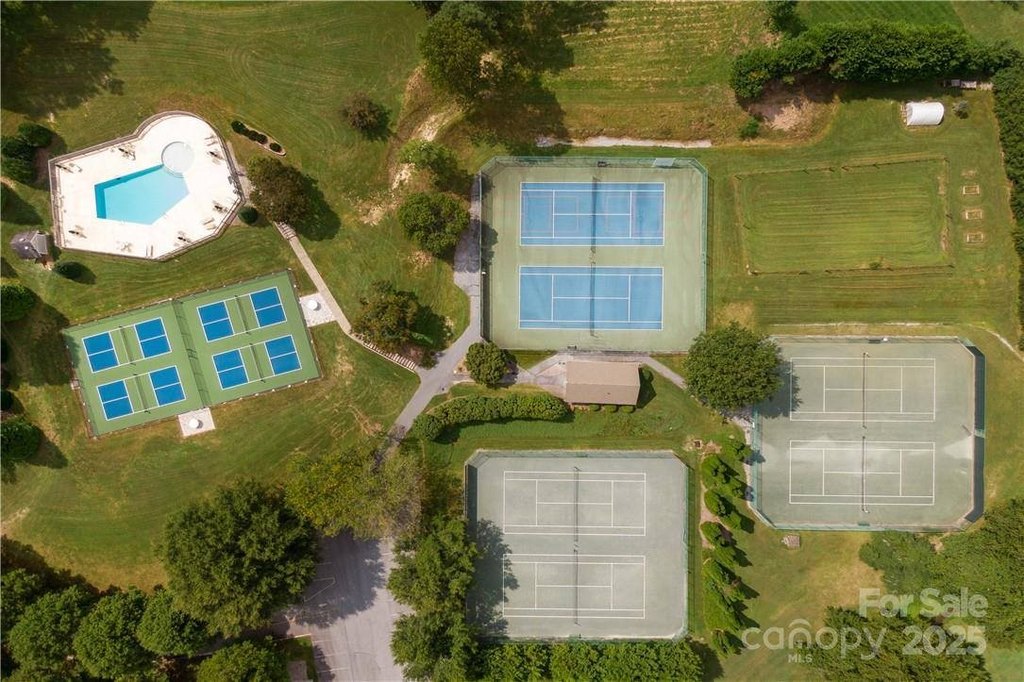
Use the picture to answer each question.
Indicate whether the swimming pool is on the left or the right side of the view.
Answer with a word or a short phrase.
left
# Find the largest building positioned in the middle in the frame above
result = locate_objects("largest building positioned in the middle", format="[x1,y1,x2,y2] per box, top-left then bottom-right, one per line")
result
[566,360,641,406]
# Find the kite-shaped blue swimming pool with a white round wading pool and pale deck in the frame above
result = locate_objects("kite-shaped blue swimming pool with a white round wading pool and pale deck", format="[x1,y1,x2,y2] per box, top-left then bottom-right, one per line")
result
[52,111,251,264]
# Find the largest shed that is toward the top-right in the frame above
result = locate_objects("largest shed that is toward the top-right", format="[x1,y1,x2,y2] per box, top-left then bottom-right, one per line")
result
[905,102,944,126]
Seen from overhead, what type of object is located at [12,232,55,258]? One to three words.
building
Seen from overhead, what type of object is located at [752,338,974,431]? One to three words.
tennis court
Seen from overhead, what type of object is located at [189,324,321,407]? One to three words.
sports court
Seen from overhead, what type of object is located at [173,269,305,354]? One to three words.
sports court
